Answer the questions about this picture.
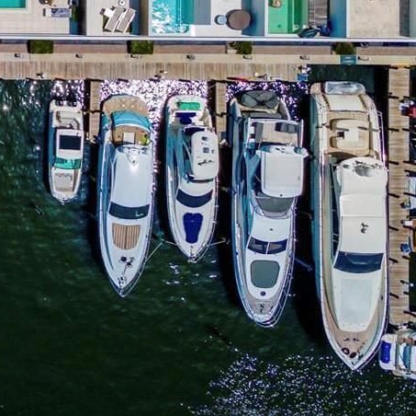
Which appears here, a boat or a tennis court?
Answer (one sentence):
There is a boat in the scene.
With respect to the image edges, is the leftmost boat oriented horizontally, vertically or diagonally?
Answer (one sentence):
The leftmost boat runs vertically in the image.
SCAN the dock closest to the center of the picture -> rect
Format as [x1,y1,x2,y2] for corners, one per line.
[209,82,228,139]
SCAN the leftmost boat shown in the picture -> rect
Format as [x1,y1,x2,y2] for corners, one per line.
[48,95,86,205]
